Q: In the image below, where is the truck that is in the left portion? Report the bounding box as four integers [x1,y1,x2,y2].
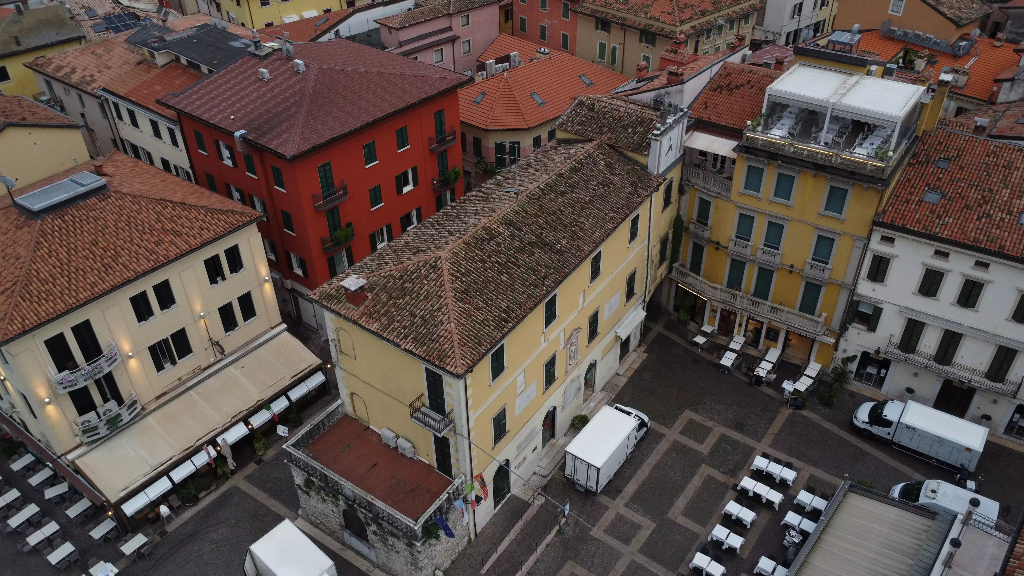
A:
[239,519,338,576]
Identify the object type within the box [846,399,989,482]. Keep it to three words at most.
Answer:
truck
